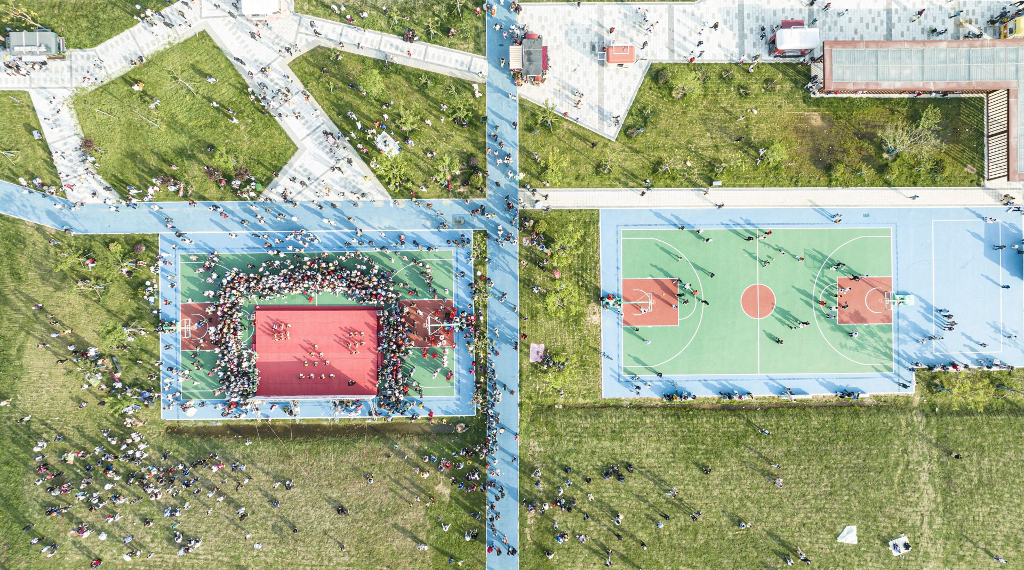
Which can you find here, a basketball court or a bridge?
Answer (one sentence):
The one in the frame is a basketball court.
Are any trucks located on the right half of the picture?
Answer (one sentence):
Yes, looking on the right half of the picture, one can make out a truck.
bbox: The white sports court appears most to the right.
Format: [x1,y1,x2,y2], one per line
[915,206,1024,369]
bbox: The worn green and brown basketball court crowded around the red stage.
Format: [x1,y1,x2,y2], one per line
[159,229,476,420]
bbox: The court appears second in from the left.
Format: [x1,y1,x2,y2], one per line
[600,206,916,398]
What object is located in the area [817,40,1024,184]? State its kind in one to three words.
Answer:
building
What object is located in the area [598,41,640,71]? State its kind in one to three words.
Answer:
camper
